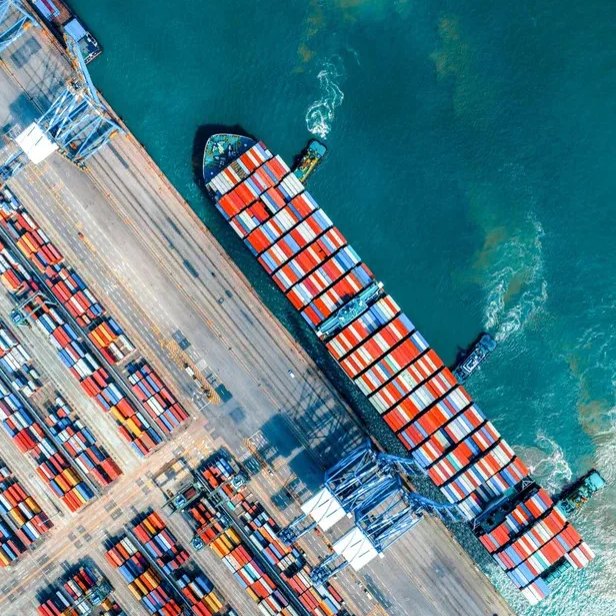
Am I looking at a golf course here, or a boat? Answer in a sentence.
Visible in the photo is a boat.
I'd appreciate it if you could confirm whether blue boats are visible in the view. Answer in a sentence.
Yes, a blue boat is visible in the scene.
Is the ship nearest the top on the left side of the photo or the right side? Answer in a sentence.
The ship nearest the top appears in the left half of the scene.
